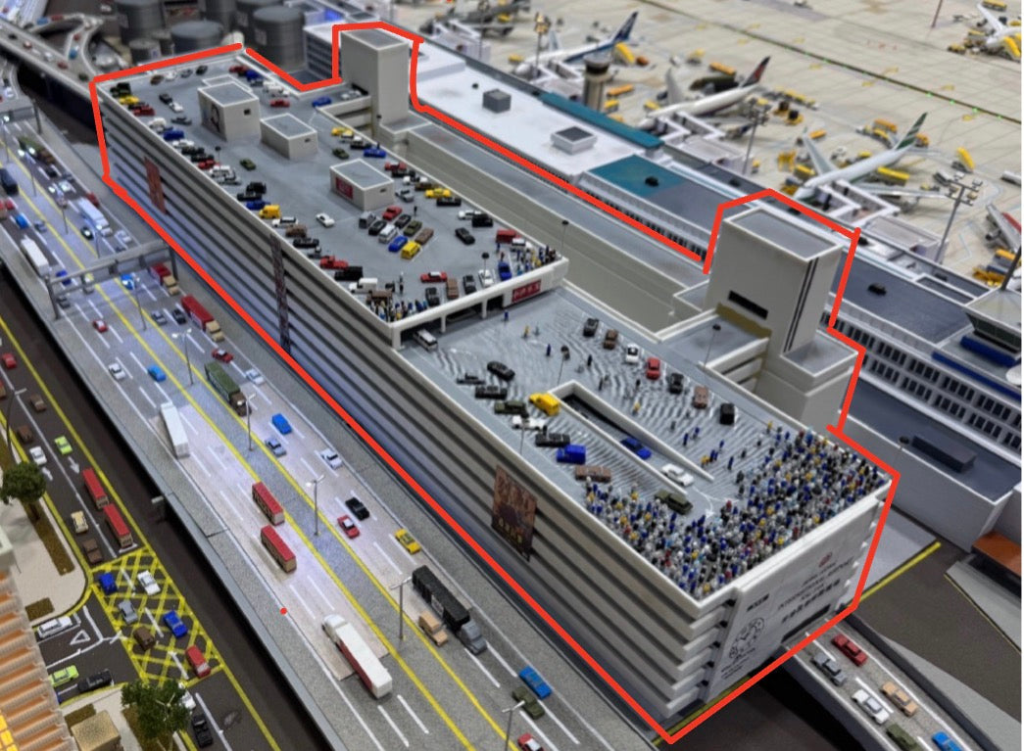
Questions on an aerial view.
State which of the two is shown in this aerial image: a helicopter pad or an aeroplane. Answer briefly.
aeroplane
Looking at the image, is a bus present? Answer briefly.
Yes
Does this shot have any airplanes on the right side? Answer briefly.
Yes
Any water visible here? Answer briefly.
No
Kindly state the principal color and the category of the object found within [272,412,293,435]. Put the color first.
blue vehicle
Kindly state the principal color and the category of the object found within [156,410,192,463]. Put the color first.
white truck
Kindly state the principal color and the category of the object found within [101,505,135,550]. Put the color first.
red bus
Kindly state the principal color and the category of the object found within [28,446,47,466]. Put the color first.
white car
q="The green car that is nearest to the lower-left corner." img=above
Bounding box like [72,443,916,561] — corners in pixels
[46,665,83,683]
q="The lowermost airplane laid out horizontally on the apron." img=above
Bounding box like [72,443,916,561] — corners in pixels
[778,98,984,207]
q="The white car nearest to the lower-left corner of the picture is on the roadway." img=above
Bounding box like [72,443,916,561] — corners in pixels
[36,617,76,639]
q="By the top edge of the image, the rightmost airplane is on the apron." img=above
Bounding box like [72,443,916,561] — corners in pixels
[960,8,1024,53]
